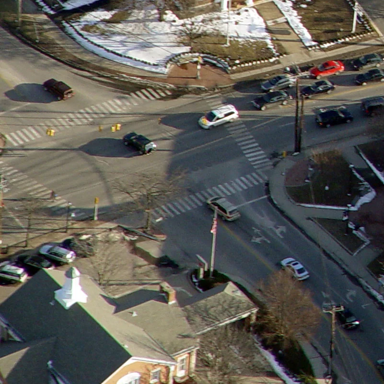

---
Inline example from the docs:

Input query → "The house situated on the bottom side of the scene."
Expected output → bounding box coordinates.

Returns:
[0,261,297,384]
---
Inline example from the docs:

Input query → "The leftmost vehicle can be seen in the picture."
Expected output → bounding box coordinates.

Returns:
[0,260,32,284]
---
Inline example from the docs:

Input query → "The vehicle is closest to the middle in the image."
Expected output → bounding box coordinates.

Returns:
[206,198,242,224]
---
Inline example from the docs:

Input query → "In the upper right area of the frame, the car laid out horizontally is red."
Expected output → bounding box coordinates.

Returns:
[307,61,347,80]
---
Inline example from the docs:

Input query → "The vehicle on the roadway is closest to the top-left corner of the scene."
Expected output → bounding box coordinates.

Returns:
[40,80,77,102]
